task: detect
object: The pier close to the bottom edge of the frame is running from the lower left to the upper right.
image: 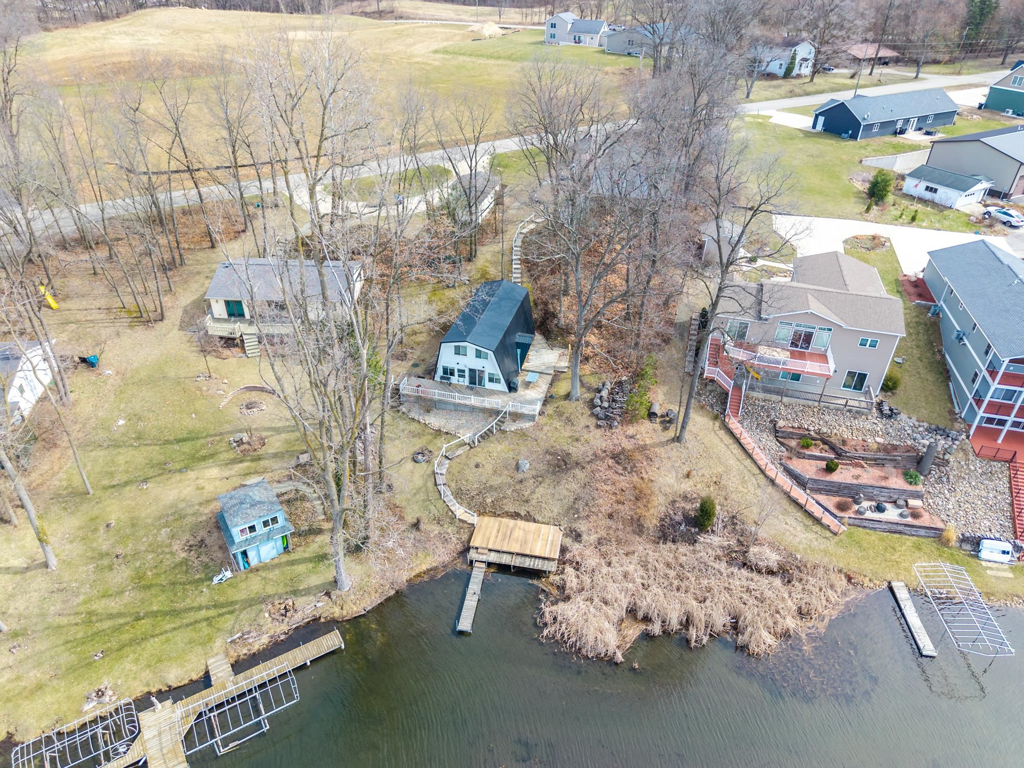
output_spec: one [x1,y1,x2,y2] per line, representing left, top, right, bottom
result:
[86,625,345,768]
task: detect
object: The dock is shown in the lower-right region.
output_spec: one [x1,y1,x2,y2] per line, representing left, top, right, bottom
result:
[887,582,937,656]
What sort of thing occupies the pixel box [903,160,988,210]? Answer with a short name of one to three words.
building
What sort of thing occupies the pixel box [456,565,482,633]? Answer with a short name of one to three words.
pier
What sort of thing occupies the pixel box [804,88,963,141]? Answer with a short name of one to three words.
house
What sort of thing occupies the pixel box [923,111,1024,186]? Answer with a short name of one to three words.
barn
